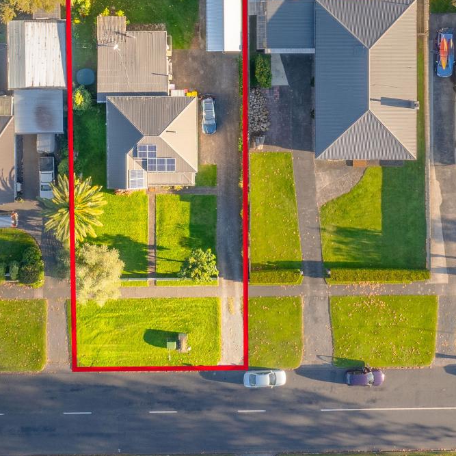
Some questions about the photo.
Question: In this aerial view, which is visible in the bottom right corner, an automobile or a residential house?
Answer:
automobile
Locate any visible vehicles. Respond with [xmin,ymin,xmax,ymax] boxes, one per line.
[435,31,455,77]
[37,158,56,201]
[0,211,19,229]
[243,368,286,389]
[199,93,218,137]
[346,362,383,388]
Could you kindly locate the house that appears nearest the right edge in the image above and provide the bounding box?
[314,0,421,169]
